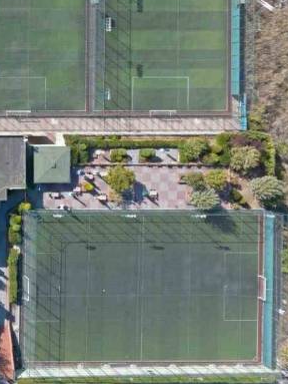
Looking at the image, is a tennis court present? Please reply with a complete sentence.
No, the frame has no tennis court in it.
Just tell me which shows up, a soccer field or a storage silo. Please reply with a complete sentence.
Looking from above, you can make out a soccer field.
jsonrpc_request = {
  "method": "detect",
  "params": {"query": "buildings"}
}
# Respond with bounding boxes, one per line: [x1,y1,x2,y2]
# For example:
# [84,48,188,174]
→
[33,146,70,183]
[0,135,27,194]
